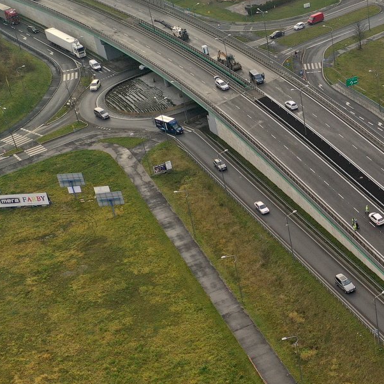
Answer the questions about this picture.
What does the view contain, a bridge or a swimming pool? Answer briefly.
bridge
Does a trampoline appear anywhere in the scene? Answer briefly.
No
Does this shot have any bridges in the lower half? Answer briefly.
No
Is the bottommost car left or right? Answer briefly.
right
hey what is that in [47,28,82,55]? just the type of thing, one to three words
truck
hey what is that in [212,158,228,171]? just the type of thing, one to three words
vehicle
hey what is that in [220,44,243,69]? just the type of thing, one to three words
work vehicle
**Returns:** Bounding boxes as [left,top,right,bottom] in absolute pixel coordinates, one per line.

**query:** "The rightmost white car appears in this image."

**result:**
[367,212,384,226]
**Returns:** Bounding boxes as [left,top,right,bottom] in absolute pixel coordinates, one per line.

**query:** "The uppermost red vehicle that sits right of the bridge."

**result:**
[307,10,323,23]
